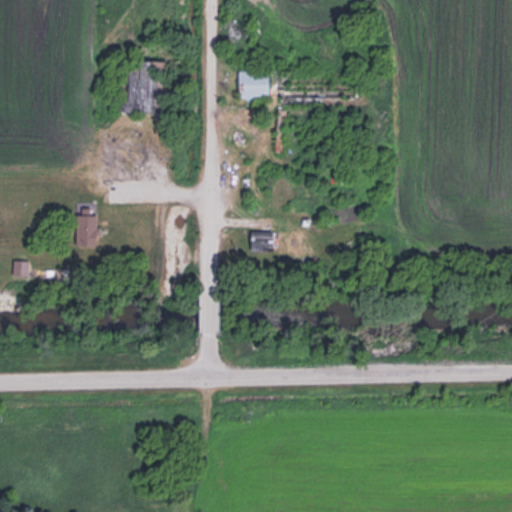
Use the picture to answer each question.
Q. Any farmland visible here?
Yes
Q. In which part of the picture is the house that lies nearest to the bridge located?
center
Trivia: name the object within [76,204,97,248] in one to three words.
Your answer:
house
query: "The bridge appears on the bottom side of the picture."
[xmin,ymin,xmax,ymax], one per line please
[200,290,219,337]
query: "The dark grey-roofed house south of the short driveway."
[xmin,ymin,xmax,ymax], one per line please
[250,230,274,252]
